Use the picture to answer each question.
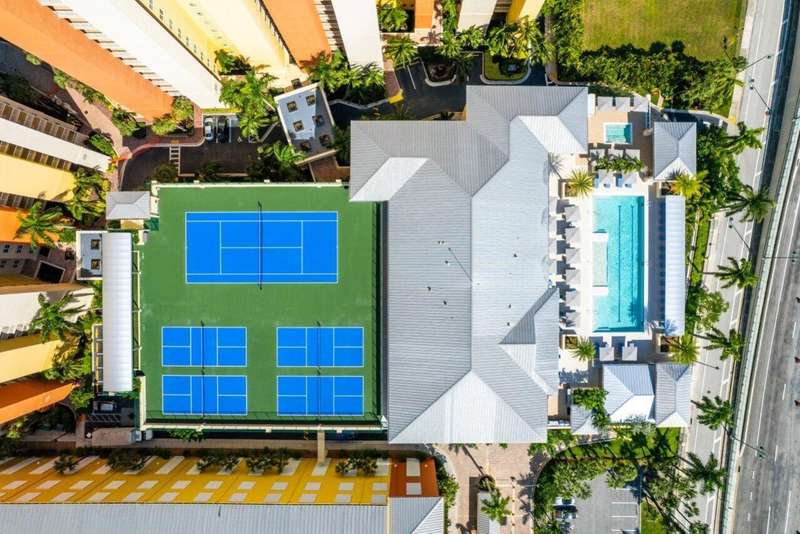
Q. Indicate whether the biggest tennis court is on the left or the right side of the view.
left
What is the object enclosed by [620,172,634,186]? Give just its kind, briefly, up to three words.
umbrella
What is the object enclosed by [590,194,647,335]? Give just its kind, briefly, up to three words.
swimming pool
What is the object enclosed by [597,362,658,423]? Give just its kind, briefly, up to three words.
building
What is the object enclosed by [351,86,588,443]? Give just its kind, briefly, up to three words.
building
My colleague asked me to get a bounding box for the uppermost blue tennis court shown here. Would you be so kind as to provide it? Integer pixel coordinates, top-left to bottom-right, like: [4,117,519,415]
[186,203,338,292]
